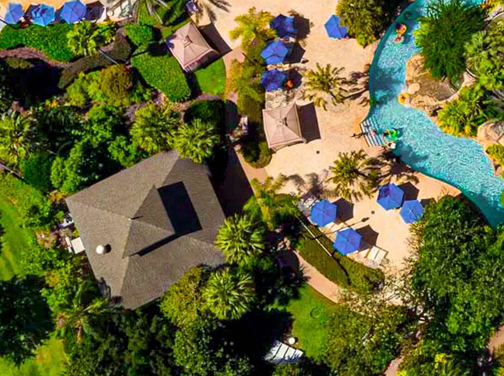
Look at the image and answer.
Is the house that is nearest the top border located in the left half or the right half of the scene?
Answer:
left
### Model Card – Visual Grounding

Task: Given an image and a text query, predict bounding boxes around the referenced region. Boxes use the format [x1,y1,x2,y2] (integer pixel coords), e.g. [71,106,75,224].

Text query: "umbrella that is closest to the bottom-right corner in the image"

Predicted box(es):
[400,200,423,224]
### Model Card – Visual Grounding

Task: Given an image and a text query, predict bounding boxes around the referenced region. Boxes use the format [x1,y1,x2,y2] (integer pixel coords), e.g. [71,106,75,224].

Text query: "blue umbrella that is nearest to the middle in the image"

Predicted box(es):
[310,200,338,225]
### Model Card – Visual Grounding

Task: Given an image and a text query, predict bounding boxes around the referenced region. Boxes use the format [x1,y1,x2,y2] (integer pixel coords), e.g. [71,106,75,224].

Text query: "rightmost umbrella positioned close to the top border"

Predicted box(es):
[325,15,351,38]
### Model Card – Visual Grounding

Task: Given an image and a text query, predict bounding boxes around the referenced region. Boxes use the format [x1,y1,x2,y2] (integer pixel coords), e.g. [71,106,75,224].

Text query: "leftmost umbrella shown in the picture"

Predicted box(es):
[5,4,30,25]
